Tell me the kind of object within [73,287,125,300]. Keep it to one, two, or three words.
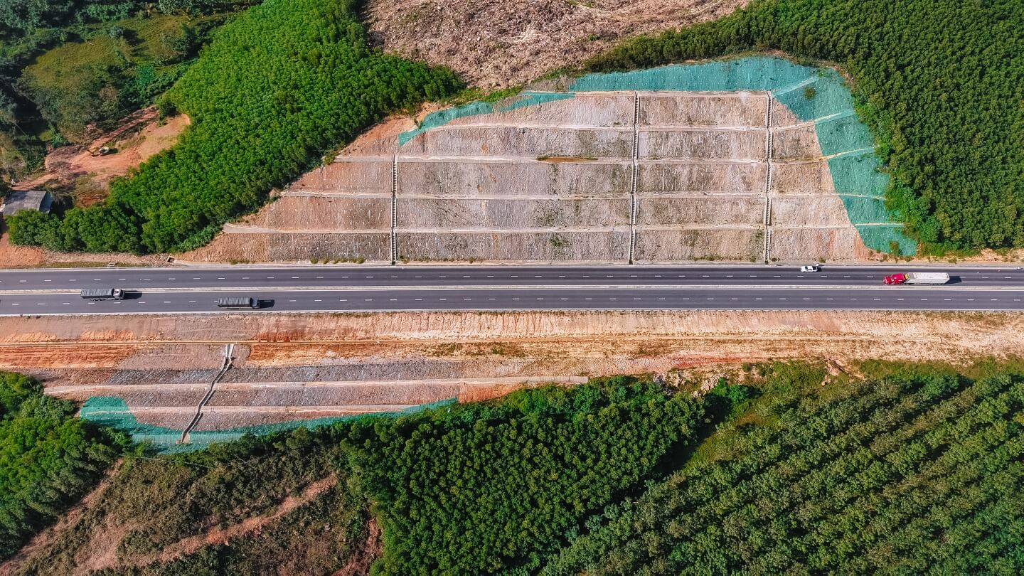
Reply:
vehicle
